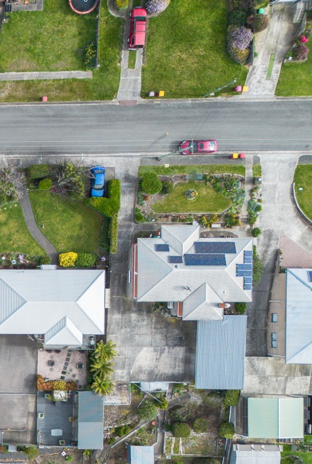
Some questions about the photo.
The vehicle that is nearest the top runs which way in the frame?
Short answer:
from top to bottom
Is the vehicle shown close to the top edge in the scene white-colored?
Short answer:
No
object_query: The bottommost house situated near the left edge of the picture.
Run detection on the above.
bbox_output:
[0,264,110,346]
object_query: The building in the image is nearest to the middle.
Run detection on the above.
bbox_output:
[129,225,254,321]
